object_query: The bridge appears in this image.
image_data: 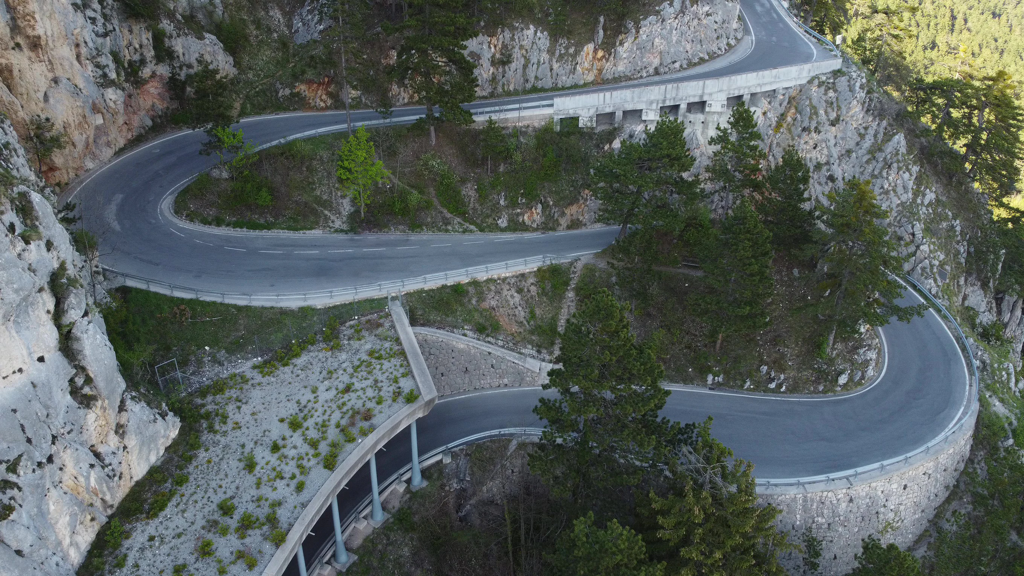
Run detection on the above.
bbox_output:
[555,57,842,147]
